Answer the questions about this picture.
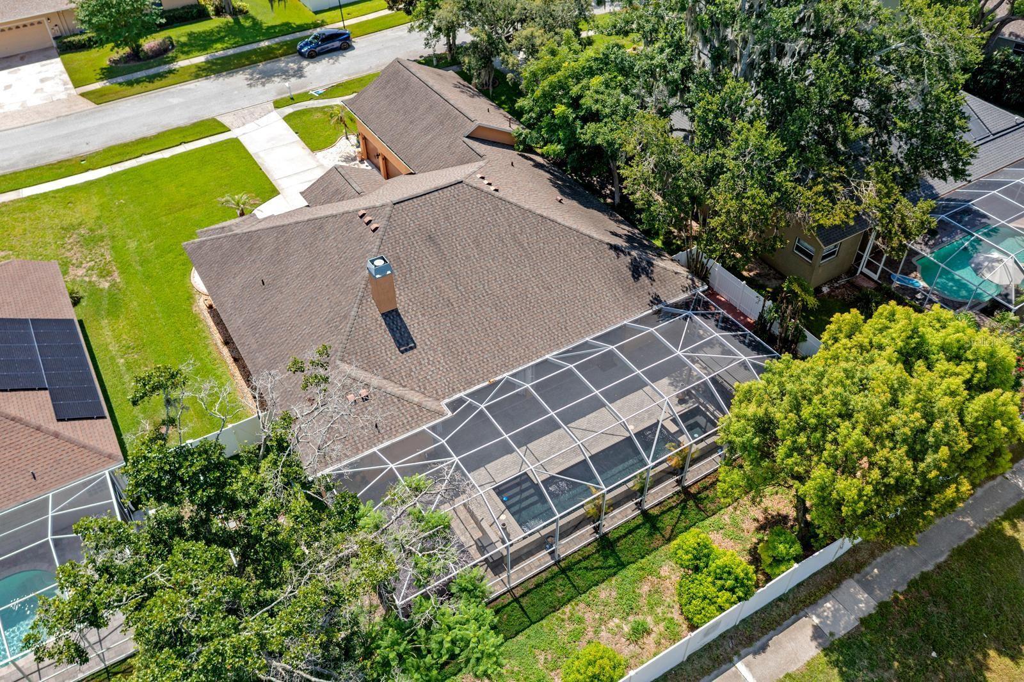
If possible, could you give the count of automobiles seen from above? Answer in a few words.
1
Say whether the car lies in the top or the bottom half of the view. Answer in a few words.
top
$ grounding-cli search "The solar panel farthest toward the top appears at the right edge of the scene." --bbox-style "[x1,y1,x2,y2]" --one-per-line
[937,106,982,141]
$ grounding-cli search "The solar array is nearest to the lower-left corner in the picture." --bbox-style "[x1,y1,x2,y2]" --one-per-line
[0,317,105,421]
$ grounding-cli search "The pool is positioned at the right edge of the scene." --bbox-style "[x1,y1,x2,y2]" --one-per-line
[887,204,1024,314]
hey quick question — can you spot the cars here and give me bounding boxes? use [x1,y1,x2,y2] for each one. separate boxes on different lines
[293,26,354,59]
